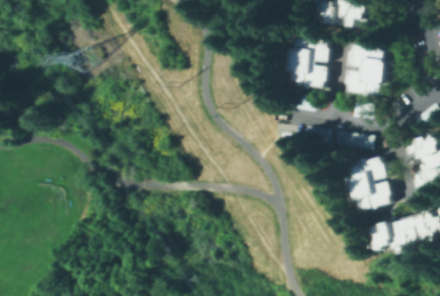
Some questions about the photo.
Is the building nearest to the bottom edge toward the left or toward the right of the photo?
right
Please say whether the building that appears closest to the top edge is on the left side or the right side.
right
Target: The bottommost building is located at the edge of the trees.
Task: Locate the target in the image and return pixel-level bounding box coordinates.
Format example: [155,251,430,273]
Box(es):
[369,213,440,252]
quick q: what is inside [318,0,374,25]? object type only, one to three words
building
